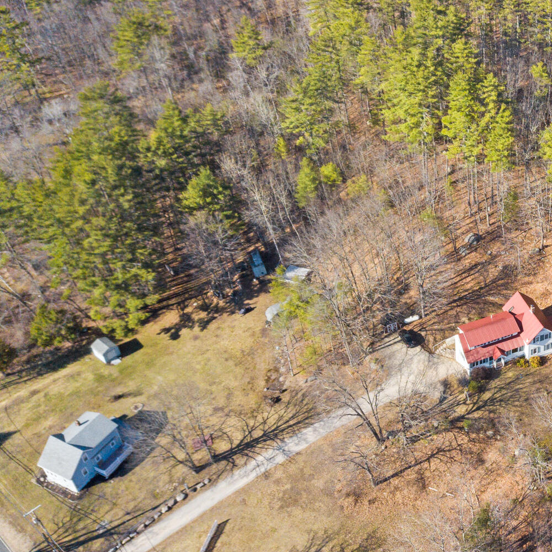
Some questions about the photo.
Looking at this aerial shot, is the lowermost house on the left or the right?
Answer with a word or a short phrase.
left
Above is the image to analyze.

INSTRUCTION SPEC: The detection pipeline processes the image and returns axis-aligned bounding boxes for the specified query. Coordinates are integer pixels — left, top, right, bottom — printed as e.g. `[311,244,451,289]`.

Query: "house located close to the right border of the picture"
[452,289,552,374]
